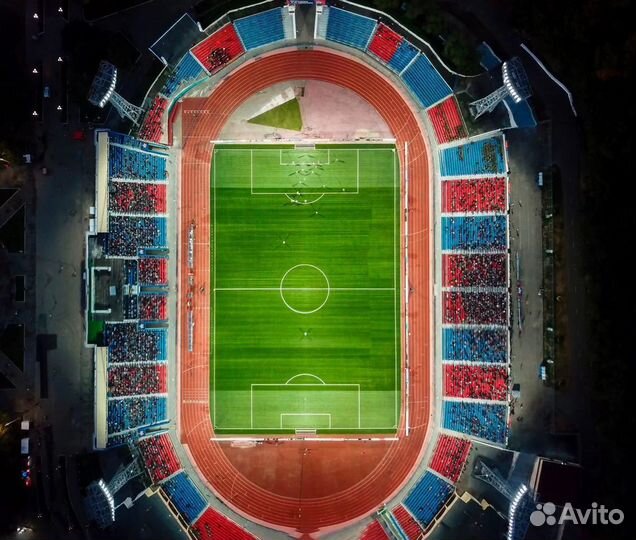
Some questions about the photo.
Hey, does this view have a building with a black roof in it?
Yes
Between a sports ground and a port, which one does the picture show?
sports ground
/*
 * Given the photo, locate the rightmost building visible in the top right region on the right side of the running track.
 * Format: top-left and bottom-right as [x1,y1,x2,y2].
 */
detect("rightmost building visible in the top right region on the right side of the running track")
[504,96,537,129]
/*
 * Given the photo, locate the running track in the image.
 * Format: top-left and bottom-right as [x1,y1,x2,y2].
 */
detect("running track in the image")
[176,45,434,540]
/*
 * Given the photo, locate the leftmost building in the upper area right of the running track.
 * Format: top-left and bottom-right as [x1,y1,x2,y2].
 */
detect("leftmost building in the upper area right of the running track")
[477,40,502,74]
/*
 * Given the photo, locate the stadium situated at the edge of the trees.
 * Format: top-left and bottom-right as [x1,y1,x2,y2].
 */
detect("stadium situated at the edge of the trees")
[85,4,514,540]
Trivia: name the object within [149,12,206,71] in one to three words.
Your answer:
building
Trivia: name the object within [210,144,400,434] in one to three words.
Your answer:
soccer field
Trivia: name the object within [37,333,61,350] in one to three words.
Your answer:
building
